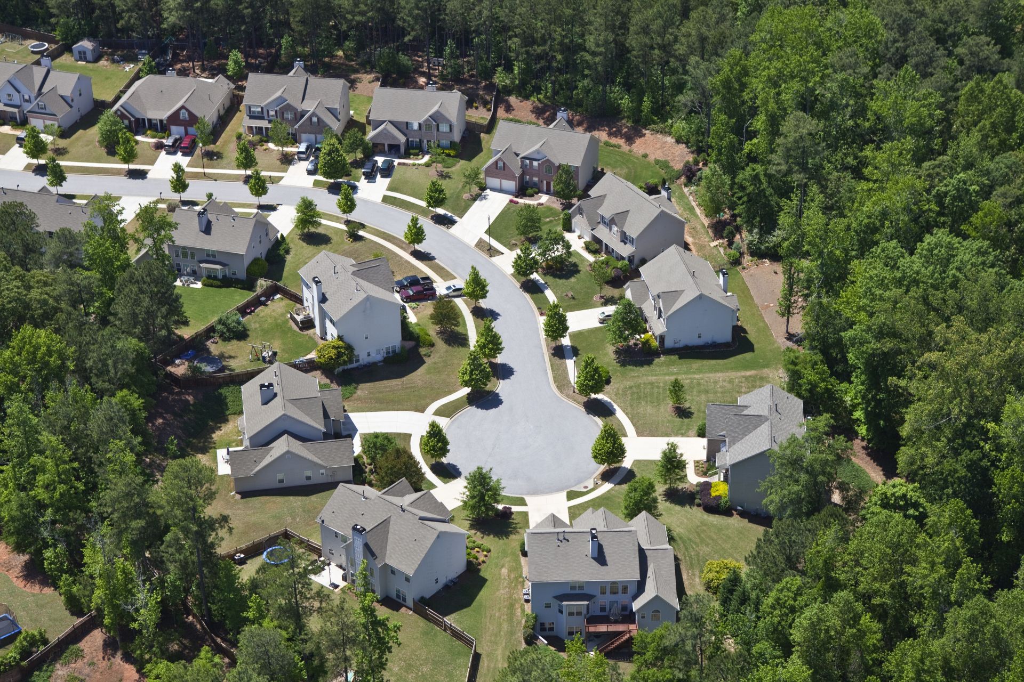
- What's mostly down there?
trees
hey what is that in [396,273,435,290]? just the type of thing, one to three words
vehicle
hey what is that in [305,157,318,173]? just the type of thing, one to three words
vehicle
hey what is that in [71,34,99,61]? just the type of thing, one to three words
shed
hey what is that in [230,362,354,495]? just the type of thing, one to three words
house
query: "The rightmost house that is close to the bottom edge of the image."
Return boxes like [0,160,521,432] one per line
[526,507,680,659]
